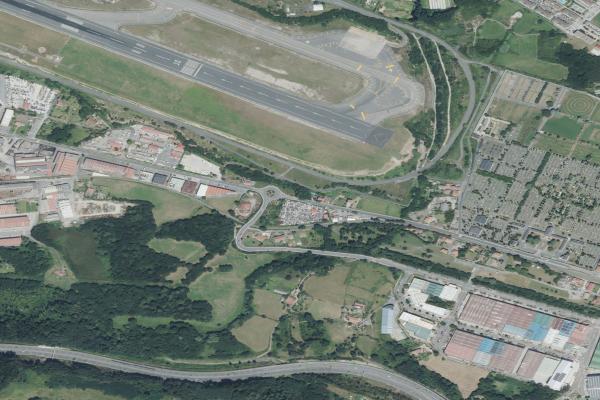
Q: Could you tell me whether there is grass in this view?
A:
Yes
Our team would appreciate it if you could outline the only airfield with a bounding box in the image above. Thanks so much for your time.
[0,0,426,174]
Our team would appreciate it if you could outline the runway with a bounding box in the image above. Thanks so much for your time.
[1,0,376,143]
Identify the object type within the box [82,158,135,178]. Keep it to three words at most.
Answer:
shed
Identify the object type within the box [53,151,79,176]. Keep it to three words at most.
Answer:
shed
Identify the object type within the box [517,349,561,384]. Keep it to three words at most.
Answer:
building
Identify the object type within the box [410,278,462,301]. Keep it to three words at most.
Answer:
building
